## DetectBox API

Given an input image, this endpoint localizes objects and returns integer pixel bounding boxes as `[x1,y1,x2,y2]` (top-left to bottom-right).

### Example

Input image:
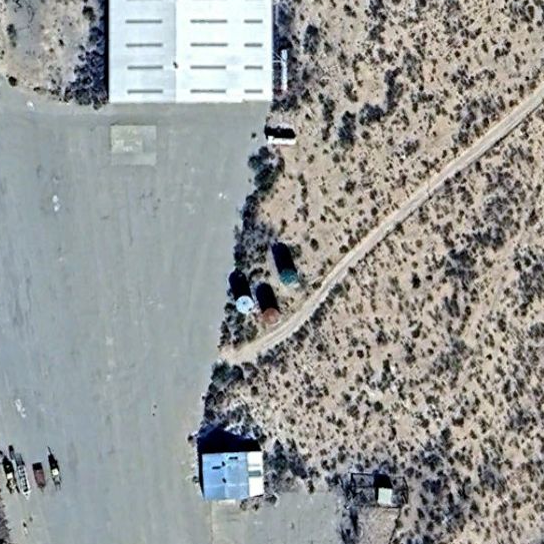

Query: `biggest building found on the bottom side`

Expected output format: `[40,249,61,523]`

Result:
[203,454,264,506]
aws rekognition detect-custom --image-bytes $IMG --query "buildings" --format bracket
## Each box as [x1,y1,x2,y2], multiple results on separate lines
[379,489,393,505]
[109,0,273,102]
[203,454,264,506]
